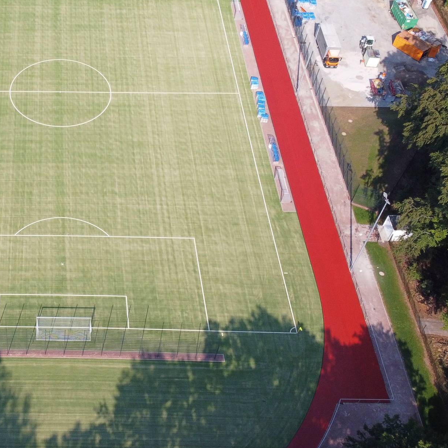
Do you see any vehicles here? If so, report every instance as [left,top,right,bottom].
[317,24,342,66]
[359,38,374,54]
